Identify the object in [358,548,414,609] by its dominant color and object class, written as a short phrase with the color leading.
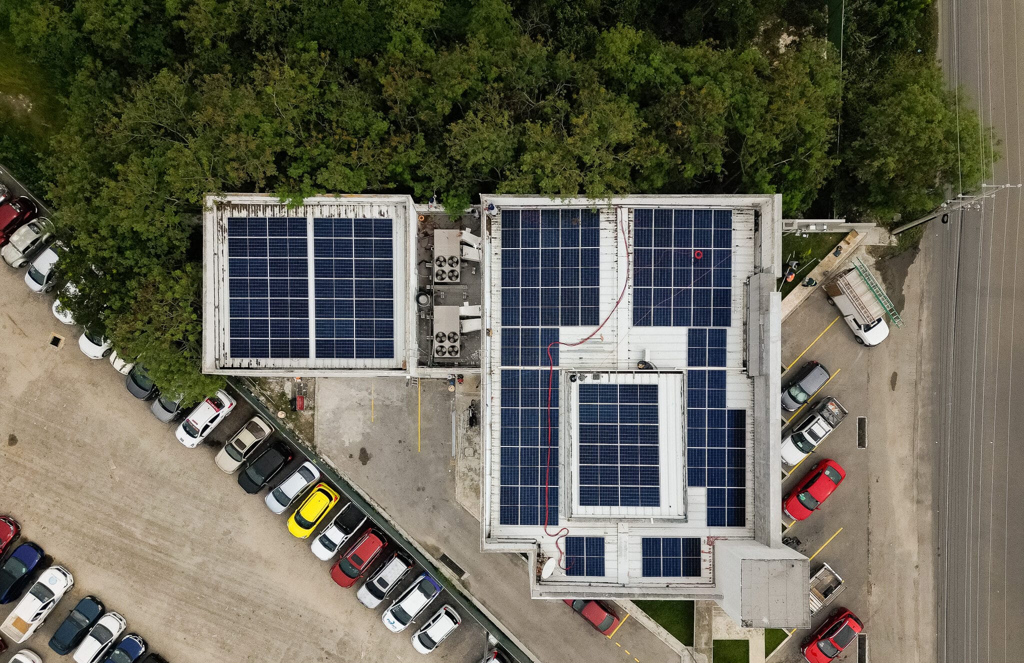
white car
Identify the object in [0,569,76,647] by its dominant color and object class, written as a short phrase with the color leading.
white truck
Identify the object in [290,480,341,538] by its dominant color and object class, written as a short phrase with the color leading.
yellow car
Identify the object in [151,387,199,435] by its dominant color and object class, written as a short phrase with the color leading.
gray car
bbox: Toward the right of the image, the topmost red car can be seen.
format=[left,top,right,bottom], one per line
[785,459,844,520]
